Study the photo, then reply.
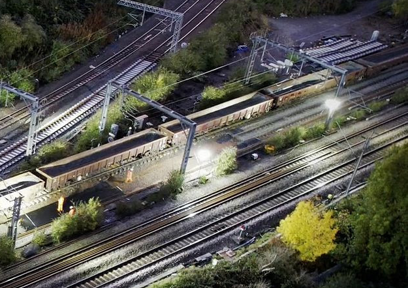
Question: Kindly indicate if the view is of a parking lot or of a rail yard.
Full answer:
This looks like a rail yard.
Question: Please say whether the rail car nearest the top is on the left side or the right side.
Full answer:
The rail car nearest the top sits on the right side.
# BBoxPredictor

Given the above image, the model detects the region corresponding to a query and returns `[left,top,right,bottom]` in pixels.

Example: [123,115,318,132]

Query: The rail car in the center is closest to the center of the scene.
[156,90,273,149]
